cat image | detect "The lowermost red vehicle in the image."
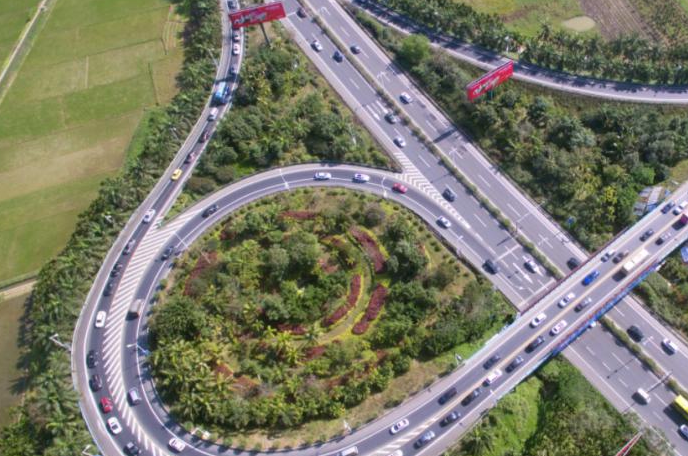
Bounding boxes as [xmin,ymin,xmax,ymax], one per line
[99,396,113,414]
